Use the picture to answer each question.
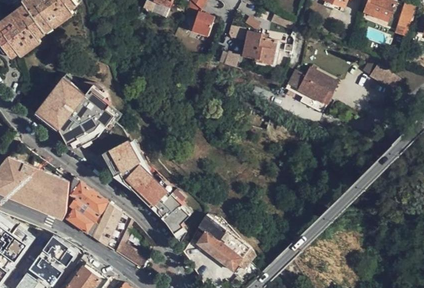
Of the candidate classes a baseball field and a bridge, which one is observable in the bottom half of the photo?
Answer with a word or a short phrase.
bridge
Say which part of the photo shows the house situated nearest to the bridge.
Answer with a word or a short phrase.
bottom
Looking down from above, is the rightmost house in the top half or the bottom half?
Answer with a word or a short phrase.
top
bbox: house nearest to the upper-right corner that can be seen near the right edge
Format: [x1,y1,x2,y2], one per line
[396,4,416,36]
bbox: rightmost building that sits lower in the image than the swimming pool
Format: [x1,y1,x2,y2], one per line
[362,62,401,84]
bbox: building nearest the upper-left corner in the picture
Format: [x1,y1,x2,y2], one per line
[0,0,83,60]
